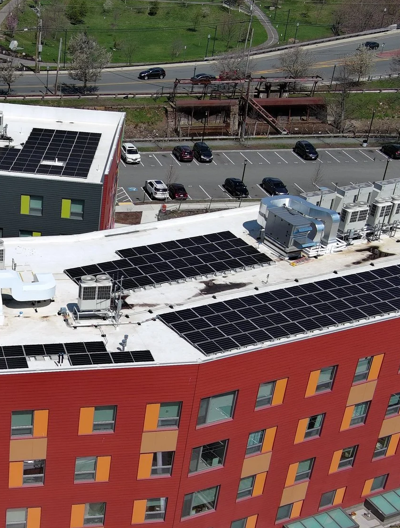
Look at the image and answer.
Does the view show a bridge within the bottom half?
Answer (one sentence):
No, I can find no bridge within the bottom half.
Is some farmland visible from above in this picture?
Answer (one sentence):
No, the scene doesn't show any farmland.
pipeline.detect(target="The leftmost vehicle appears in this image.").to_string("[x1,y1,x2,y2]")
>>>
[123,141,141,160]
